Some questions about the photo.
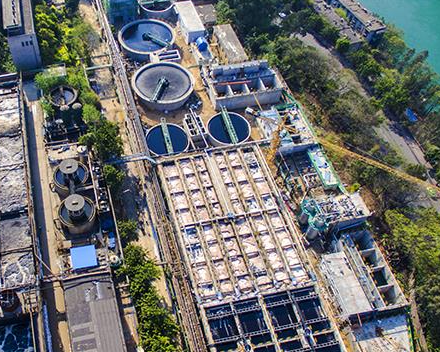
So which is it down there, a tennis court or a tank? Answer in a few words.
tank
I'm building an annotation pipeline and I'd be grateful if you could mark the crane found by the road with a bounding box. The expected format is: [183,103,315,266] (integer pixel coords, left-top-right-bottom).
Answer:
[246,106,440,204]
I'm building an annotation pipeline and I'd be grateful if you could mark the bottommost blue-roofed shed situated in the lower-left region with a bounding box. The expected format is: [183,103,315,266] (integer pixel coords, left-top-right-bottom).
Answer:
[69,244,98,273]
